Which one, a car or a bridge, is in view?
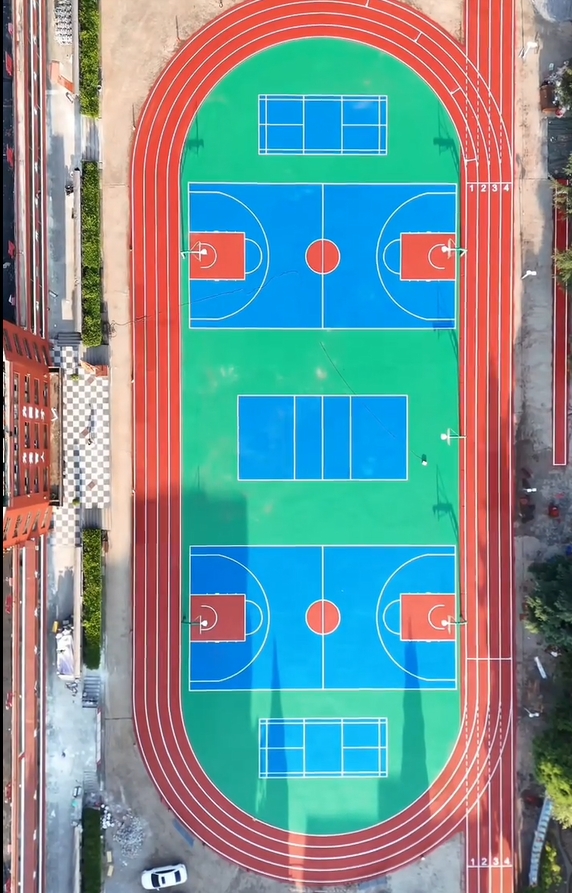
car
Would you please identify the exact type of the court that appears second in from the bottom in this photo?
basketball court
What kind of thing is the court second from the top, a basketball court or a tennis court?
basketball court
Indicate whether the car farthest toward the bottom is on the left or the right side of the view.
left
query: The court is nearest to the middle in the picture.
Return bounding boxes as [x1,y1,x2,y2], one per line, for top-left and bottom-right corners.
[237,395,408,481]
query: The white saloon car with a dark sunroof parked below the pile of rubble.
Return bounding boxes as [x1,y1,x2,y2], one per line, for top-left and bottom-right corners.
[141,863,188,890]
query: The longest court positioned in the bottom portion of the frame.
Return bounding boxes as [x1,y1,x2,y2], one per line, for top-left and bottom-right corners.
[189,546,457,691]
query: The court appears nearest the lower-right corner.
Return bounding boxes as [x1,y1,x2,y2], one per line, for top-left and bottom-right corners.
[259,719,388,778]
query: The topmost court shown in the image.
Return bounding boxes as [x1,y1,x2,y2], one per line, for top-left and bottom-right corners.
[258,94,387,154]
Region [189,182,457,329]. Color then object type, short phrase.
blue basketball court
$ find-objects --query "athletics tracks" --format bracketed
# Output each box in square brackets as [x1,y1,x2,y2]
[132,0,518,893]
